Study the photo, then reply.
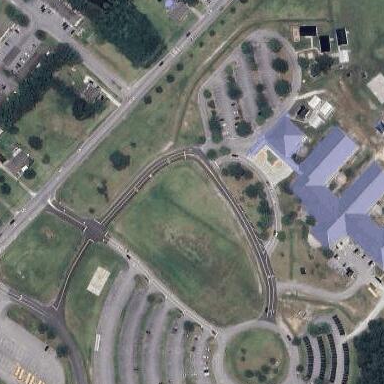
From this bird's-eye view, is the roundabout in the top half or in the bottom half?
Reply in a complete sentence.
You can find the roundabout in the bottom half.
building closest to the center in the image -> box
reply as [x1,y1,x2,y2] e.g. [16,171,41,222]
[261,108,309,159]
